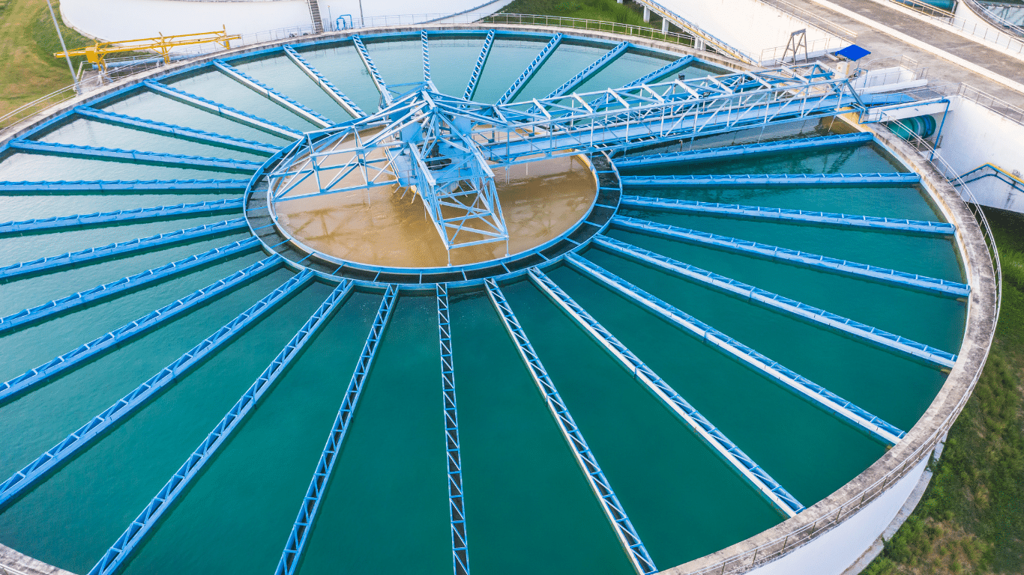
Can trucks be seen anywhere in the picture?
No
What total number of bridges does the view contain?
one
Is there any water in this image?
Yes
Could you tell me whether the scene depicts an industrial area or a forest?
industrial area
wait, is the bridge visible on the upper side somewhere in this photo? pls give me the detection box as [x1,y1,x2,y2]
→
[460,59,871,186]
